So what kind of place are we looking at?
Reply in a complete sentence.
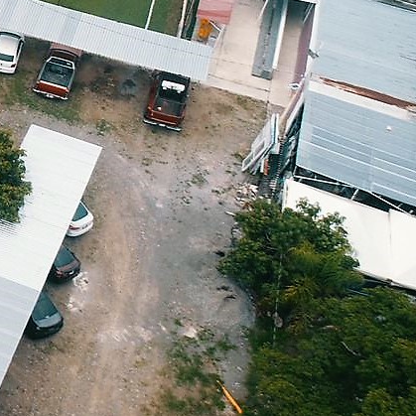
This image shows an industrial area.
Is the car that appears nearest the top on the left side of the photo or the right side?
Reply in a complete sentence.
The car that appears nearest the top sits on the left side.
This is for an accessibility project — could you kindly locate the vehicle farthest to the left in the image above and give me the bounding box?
[0,28,29,72]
